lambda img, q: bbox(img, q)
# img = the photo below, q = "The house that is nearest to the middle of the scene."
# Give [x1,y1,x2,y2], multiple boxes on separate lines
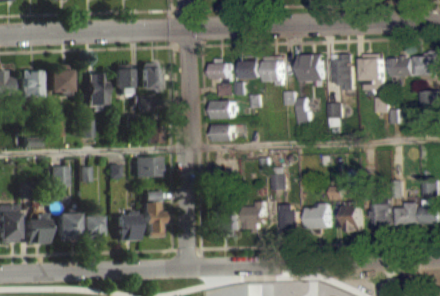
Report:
[205,124,234,142]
